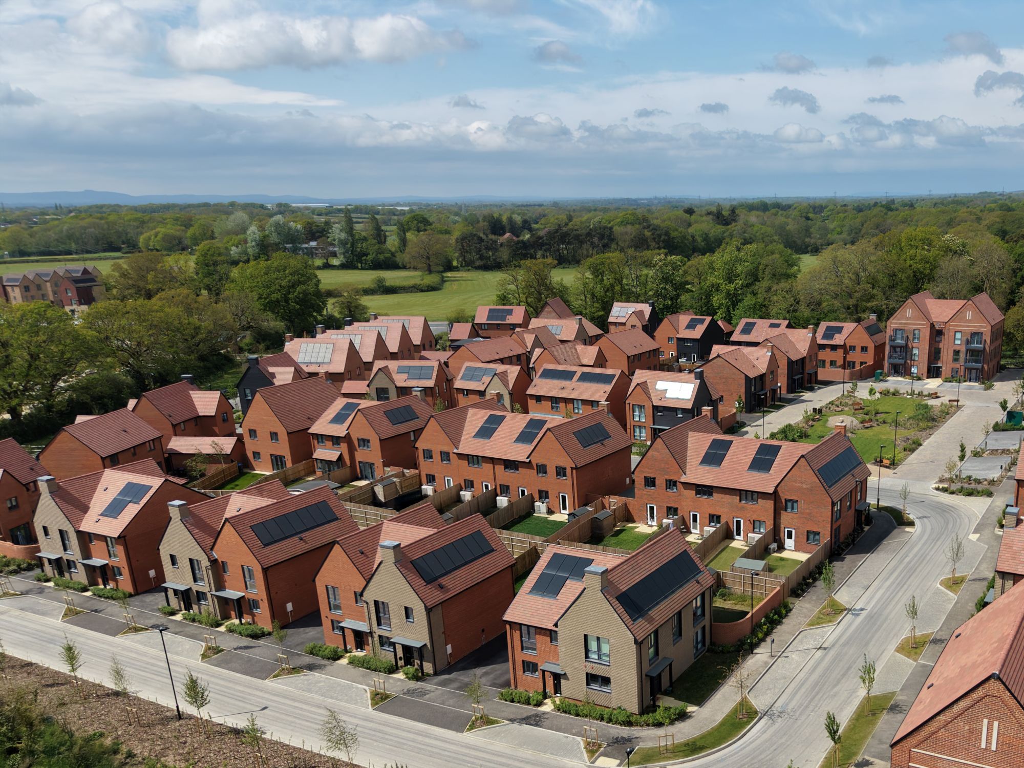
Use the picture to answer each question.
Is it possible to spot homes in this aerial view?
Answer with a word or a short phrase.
Yes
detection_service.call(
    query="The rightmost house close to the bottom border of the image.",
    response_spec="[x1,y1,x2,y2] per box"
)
[887,579,1024,768]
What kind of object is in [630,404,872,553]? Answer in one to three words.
house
